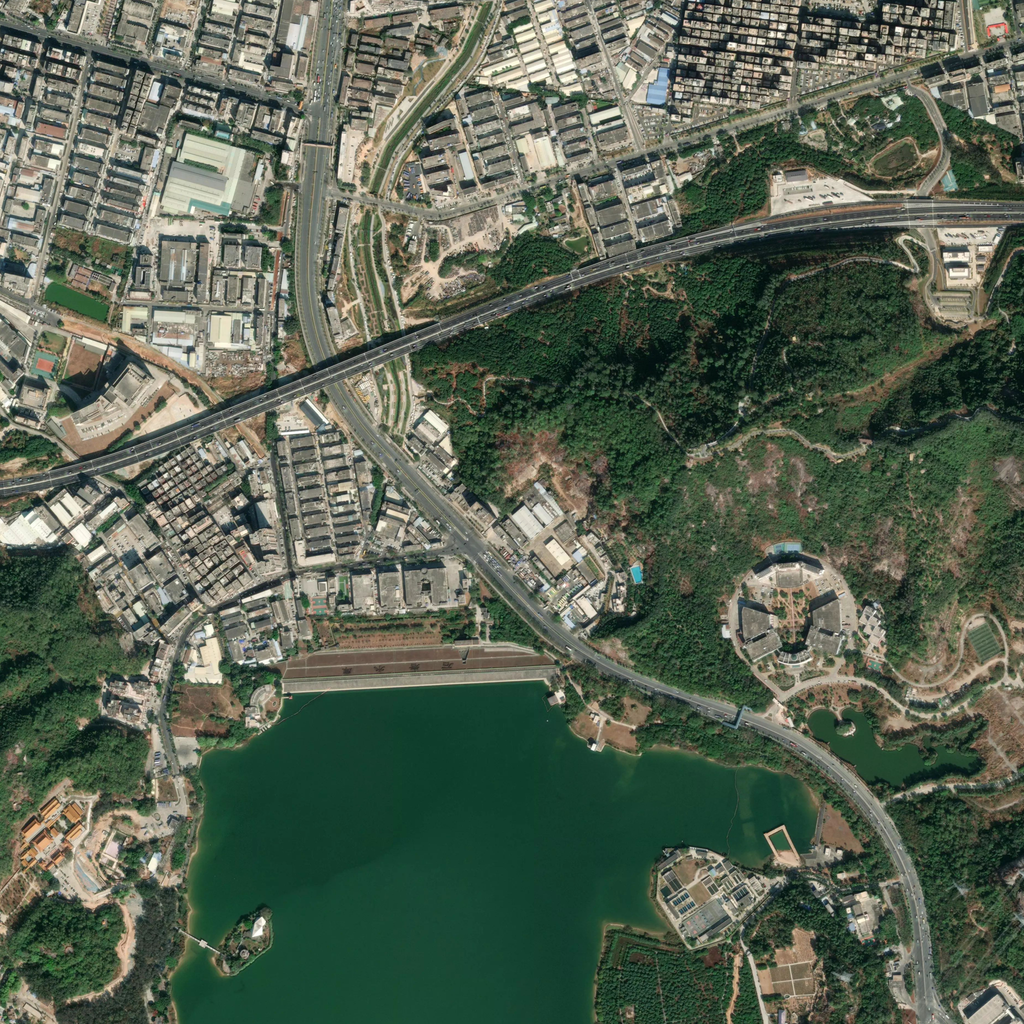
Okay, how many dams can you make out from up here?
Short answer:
one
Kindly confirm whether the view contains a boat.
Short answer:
No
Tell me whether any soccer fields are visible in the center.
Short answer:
No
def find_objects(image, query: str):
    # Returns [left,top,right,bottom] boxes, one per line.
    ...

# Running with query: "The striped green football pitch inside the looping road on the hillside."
[968,623,1001,662]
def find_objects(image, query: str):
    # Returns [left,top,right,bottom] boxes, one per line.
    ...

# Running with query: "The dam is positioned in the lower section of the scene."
[283,645,556,693]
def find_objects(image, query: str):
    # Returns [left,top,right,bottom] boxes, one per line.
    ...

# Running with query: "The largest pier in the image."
[761,824,801,865]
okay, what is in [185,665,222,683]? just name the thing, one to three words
shed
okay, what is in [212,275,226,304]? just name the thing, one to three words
building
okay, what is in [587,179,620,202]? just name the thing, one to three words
building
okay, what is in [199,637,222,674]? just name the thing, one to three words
shed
